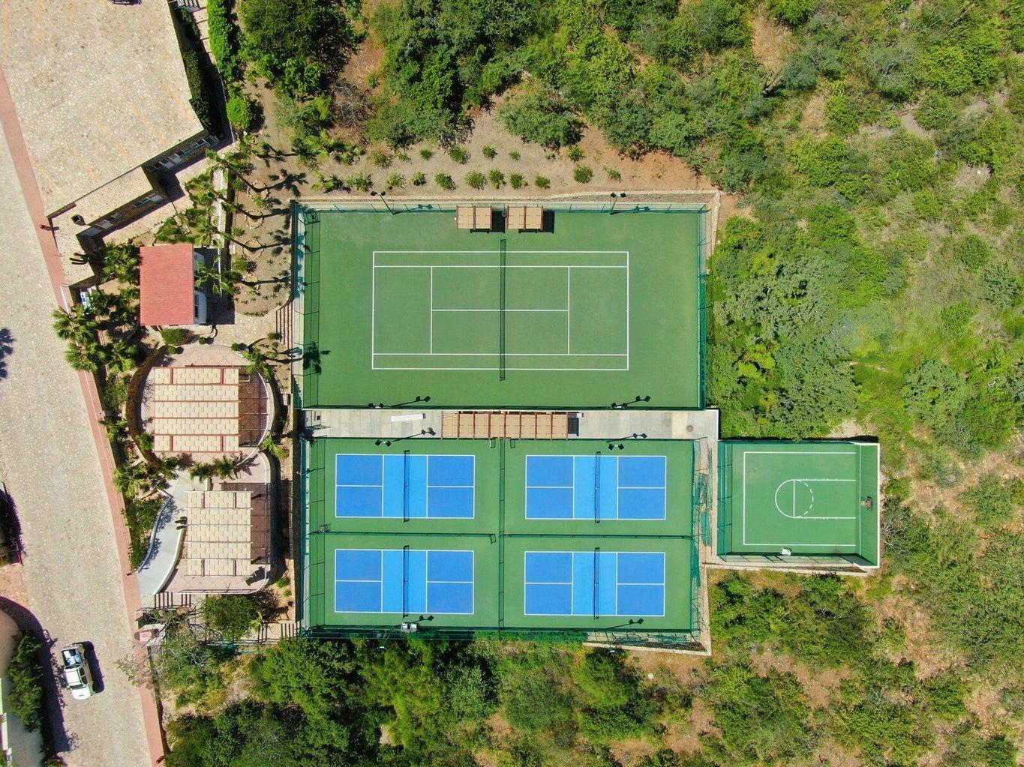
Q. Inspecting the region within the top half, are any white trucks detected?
No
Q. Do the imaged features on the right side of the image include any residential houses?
No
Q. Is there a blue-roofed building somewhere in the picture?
No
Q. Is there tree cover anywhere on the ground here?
Yes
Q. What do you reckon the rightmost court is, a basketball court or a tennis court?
basketball court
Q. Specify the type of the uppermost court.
tennis court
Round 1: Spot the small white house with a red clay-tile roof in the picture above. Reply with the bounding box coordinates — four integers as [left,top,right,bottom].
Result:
[139,245,213,333]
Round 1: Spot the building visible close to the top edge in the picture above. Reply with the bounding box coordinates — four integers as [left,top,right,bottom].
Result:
[0,0,217,217]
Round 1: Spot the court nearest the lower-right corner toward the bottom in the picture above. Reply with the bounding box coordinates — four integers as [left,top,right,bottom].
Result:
[715,441,858,559]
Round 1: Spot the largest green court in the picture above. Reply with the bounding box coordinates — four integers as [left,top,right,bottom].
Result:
[302,211,704,409]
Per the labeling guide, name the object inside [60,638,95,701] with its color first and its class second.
white truck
